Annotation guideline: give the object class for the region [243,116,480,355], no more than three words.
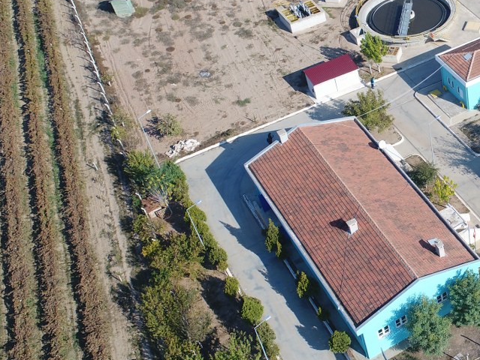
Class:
building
